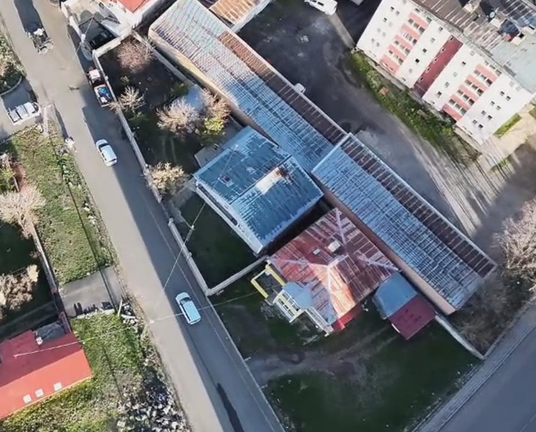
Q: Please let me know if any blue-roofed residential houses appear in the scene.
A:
Yes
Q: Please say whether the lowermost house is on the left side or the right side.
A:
left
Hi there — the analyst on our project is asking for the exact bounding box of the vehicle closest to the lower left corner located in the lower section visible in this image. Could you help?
[175,291,203,328]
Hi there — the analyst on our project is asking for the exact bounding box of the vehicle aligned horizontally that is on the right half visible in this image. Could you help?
[303,0,340,16]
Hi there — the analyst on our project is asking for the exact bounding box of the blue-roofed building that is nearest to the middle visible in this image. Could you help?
[192,130,321,254]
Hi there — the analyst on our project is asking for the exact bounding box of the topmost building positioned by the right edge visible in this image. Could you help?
[361,0,536,141]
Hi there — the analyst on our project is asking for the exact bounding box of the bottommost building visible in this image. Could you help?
[0,323,93,424]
